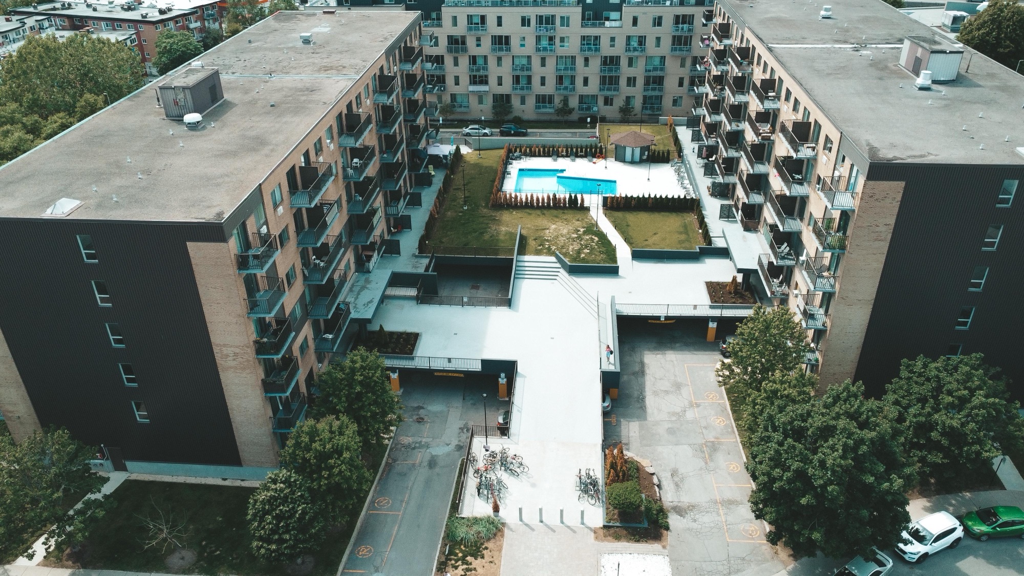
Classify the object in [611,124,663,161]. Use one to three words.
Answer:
building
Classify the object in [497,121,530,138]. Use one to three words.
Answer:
car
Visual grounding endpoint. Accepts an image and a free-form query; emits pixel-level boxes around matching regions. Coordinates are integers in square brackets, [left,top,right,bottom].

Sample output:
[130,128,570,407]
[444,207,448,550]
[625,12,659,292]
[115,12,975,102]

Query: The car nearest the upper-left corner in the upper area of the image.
[461,123,496,137]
